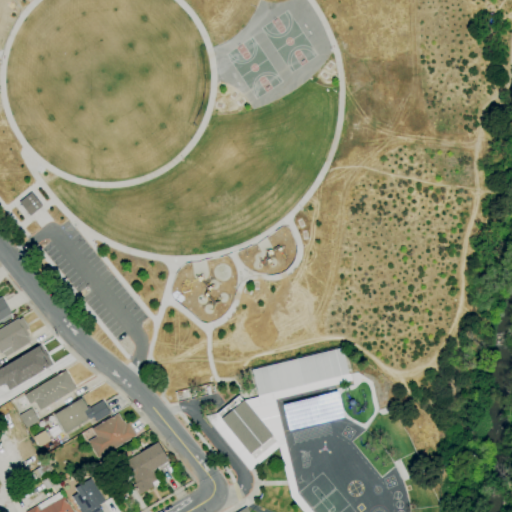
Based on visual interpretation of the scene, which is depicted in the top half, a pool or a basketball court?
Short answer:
basketball court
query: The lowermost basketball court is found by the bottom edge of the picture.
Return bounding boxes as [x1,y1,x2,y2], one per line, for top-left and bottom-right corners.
[300,473,355,512]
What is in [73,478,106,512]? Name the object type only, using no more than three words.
house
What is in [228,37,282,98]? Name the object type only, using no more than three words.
basketball court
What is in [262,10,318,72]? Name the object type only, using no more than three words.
basketball court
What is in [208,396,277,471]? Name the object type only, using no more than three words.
building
